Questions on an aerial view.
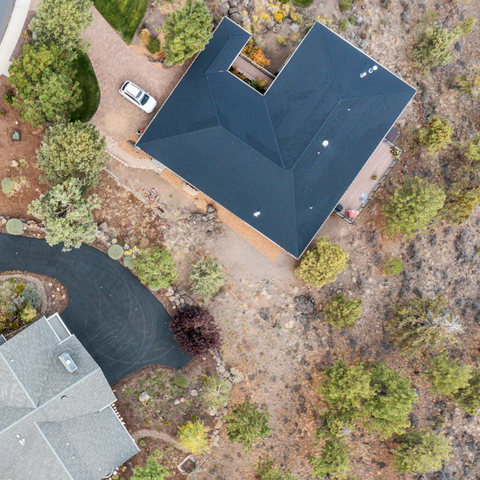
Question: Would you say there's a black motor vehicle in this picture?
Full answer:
No, no black motor vehicle can be seen from above.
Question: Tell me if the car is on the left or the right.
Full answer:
You can find the car on the left side of the picture.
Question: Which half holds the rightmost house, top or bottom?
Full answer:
It is in the top half that the rightmost house appears.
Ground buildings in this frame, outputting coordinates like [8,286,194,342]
[0,313,141,480]
[135,16,418,260]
